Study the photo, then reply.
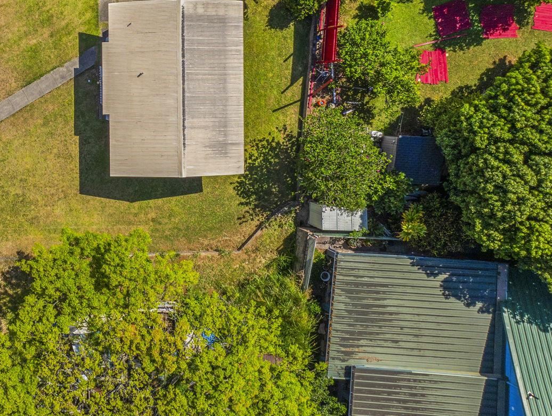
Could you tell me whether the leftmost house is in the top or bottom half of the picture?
top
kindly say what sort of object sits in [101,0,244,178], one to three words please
house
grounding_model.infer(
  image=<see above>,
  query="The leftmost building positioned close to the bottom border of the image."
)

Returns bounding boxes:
[324,252,508,416]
